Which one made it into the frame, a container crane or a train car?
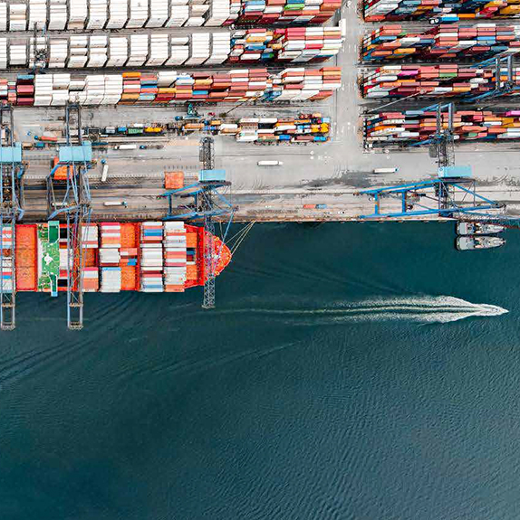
container crane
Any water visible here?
Yes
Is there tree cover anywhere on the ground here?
No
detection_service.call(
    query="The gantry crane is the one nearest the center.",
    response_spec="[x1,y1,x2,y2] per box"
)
[152,112,242,309]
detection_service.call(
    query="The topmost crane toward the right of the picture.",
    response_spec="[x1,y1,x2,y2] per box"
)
[451,48,510,103]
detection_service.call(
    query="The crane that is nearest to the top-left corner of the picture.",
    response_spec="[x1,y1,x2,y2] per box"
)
[28,15,49,71]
